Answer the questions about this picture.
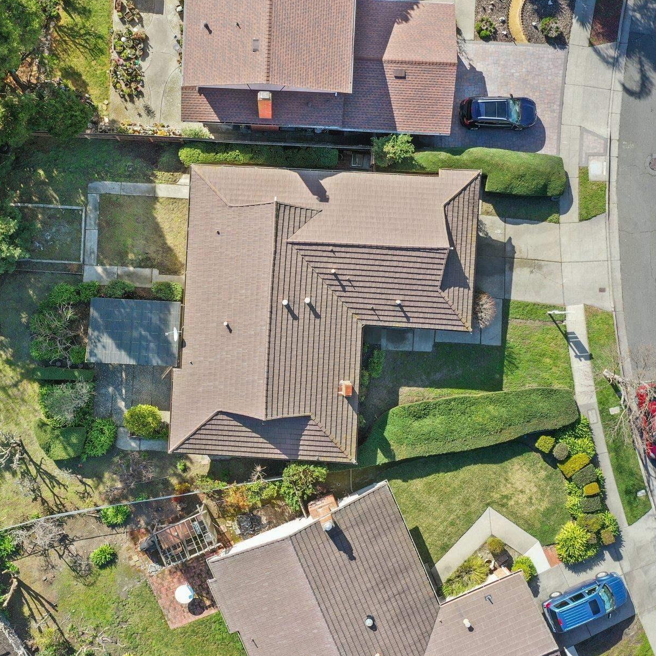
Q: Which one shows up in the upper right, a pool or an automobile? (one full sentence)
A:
What appears in the upper right is an automobile.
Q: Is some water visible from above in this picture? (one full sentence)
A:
No, there's no water in this view.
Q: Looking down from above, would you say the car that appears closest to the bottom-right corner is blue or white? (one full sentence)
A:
In this view, the car that appears closest to the bottom-right corner is blue.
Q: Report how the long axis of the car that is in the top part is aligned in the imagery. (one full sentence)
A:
What the image shows is the car that is in the top part lying horizontally.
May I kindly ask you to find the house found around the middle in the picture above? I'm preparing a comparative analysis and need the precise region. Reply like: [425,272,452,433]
[168,165,480,462]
